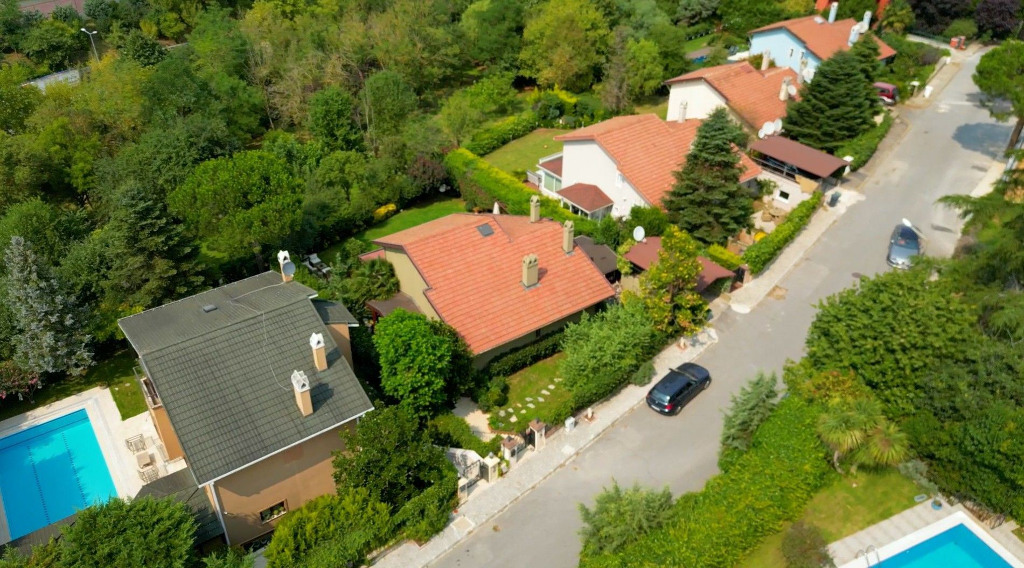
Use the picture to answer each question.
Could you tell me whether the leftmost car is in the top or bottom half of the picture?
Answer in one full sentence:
It is in the bottom half that the leftmost car appears.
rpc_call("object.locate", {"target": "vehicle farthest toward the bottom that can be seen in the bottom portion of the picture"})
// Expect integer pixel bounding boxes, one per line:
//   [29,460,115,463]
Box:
[642,360,713,415]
